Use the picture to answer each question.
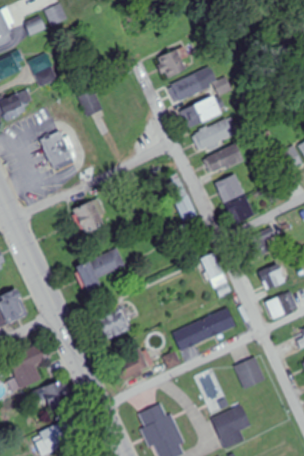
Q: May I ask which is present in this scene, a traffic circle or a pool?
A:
pool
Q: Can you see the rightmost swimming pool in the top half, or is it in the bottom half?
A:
bottom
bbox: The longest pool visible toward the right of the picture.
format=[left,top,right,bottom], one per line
[193,368,230,416]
